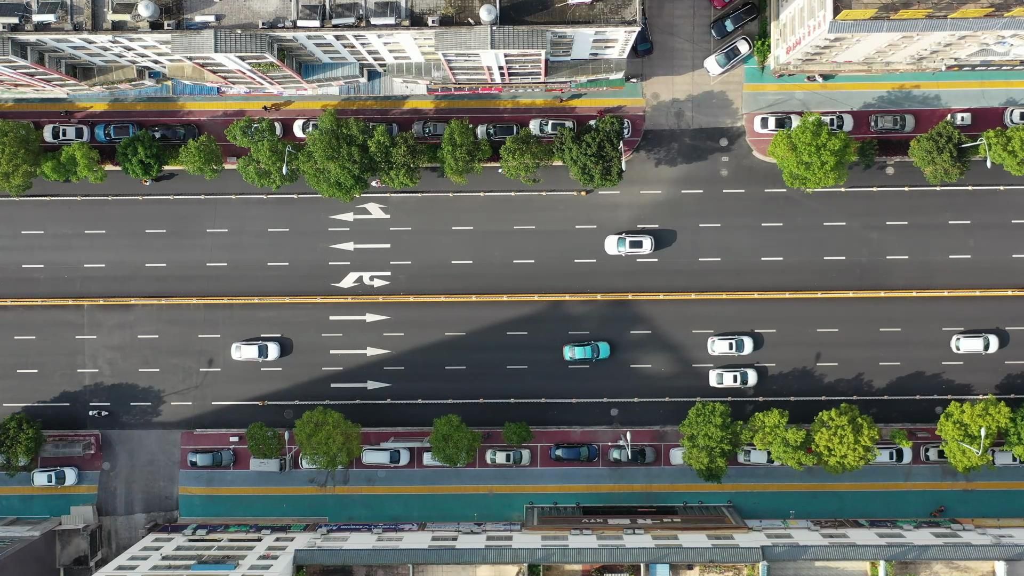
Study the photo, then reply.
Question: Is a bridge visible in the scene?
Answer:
No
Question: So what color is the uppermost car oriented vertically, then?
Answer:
black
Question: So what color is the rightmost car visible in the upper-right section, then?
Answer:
white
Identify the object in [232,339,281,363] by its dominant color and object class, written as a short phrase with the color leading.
white car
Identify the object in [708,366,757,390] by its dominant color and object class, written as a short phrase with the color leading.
white car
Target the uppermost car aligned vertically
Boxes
[632,7,656,60]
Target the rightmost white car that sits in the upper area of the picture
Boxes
[1003,106,1024,128]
